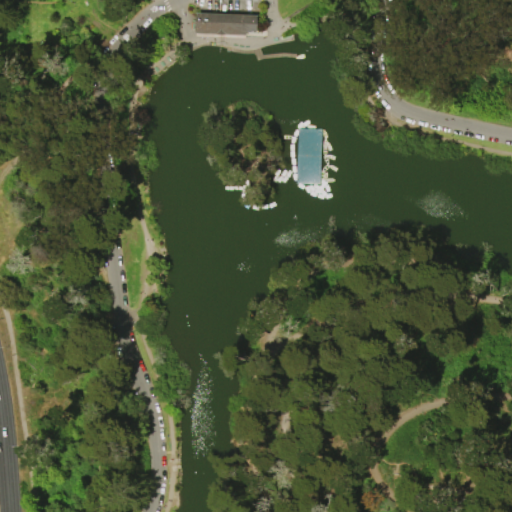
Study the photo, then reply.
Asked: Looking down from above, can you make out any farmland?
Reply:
No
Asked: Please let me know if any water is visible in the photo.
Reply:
Yes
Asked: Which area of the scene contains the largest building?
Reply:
top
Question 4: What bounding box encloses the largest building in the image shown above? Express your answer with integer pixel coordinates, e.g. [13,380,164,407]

[196,12,268,37]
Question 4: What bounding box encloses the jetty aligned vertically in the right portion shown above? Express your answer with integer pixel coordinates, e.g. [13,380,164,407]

[298,128,322,184]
